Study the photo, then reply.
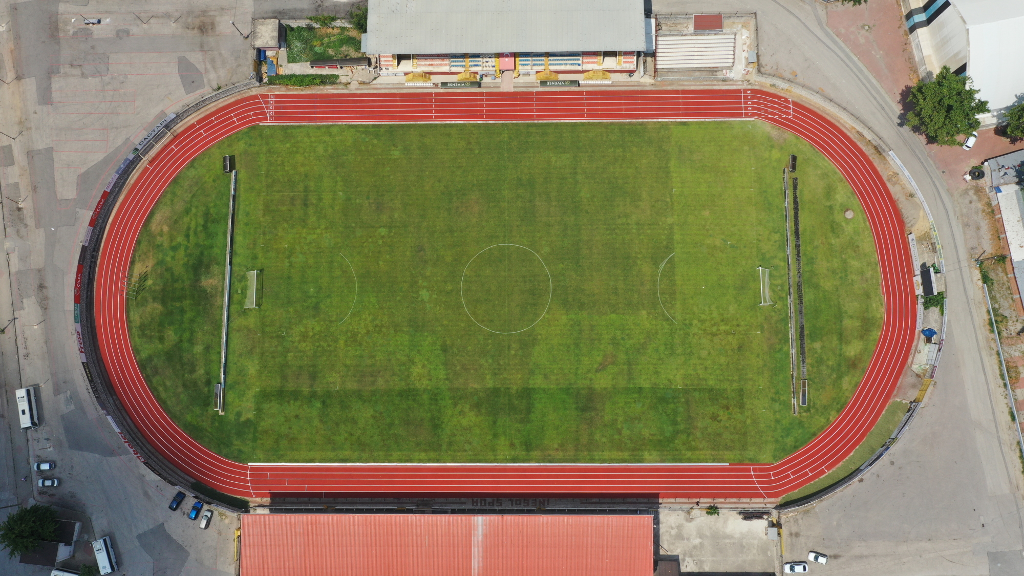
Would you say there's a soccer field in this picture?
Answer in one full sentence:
Yes, you can see a soccer field in this photo.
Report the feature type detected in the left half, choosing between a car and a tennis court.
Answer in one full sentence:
It is a car that can be seen in the left half.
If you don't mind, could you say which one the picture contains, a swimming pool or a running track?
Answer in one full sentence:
Looking from above, you can make out a running track.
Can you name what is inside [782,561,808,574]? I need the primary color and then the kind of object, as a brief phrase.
white vehicle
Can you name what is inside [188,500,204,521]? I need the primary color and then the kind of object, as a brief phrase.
blue car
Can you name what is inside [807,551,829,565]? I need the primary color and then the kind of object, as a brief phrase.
white car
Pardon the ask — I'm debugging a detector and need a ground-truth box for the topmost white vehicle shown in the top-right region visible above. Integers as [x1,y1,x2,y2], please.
[961,133,977,152]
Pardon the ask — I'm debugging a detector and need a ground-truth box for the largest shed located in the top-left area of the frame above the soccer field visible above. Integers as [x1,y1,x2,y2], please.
[252,19,283,52]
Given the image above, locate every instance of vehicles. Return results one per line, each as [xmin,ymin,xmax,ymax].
[961,133,977,152]
[52,564,95,576]
[94,535,119,576]
[198,508,214,530]
[34,461,56,471]
[169,491,186,512]
[18,388,40,429]
[188,500,204,521]
[807,551,829,565]
[782,561,808,574]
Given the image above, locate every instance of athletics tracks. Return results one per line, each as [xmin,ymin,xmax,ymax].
[94,89,917,499]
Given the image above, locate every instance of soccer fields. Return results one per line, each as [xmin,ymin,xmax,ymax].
[253,126,765,457]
